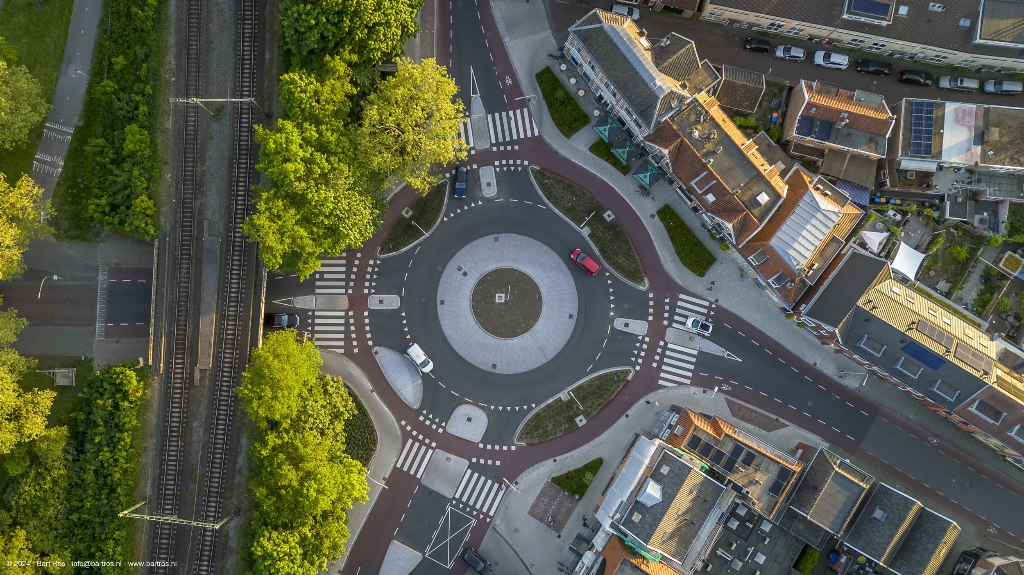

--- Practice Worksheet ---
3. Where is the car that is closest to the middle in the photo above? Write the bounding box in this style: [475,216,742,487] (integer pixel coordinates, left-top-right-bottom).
[571,247,601,275]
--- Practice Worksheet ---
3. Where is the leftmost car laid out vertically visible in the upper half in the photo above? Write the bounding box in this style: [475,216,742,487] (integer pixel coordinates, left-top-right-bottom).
[452,164,468,198]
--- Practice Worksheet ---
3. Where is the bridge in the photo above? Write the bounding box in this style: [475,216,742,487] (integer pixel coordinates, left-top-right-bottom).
[148,220,270,386]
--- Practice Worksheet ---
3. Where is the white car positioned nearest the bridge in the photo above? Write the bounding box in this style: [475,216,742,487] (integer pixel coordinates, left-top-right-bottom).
[405,342,433,374]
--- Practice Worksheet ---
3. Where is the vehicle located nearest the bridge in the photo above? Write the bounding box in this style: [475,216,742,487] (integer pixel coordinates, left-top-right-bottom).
[265,313,298,329]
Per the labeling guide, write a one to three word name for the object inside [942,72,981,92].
car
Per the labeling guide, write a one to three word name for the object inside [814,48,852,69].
car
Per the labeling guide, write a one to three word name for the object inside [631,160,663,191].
umbrella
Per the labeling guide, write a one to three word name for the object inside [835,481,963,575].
house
